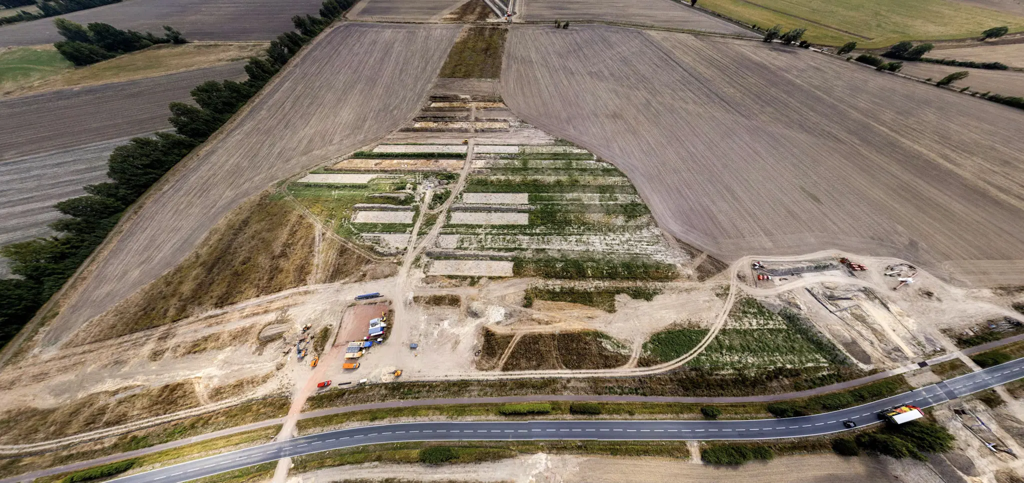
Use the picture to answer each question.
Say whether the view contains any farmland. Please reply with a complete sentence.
Yes, farmland shows up in the scene.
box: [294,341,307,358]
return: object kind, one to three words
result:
vehicle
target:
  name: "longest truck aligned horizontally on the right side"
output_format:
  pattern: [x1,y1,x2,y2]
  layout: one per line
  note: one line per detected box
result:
[872,402,925,424]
